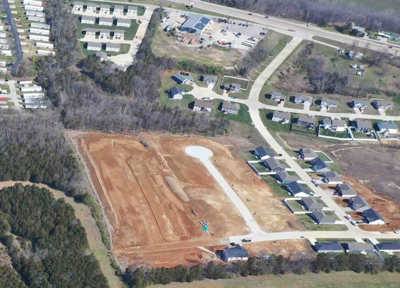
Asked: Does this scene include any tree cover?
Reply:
Yes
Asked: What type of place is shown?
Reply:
residential area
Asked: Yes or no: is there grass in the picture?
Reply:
Yes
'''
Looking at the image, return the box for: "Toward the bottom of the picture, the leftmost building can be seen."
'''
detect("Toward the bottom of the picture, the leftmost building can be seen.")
[219,247,248,261]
